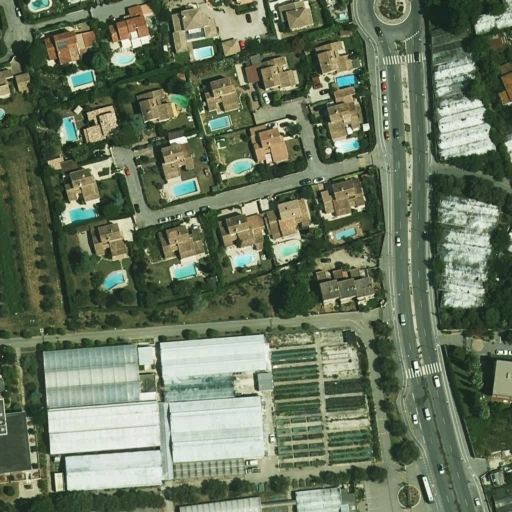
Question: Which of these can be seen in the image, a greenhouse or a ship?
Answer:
greenhouse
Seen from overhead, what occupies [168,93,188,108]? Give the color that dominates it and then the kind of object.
green swimming pool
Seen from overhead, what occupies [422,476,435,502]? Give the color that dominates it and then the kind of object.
white vehicle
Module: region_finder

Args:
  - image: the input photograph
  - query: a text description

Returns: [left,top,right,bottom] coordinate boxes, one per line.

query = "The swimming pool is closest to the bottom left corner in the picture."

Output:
[102,270,127,292]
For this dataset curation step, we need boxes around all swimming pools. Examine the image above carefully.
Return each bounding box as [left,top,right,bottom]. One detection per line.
[66,69,96,92]
[170,258,198,281]
[227,250,256,273]
[335,74,357,89]
[164,178,200,202]
[208,116,232,134]
[102,270,127,292]
[60,116,80,145]
[336,12,349,23]
[192,46,215,61]
[328,222,364,244]
[110,50,136,68]
[168,93,188,108]
[28,0,52,12]
[334,138,360,152]
[64,198,100,225]
[274,240,300,260]
[221,159,255,180]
